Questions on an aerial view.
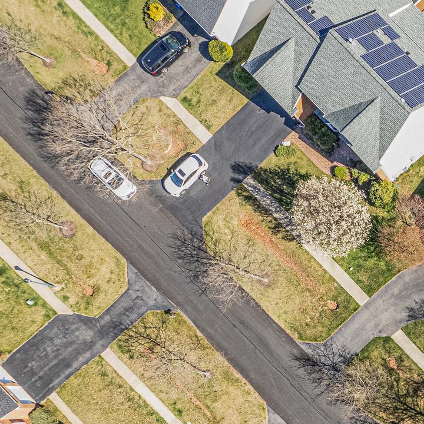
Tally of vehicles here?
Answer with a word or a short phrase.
3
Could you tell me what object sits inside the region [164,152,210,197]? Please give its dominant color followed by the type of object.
white car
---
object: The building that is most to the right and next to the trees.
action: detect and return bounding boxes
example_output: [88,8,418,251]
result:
[234,0,424,181]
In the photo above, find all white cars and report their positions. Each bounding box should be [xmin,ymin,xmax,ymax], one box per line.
[164,152,210,197]
[86,157,139,201]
